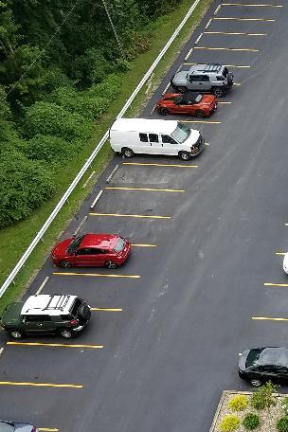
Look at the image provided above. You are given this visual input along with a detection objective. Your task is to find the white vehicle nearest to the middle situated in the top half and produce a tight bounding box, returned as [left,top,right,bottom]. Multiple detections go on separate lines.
[105,118,205,160]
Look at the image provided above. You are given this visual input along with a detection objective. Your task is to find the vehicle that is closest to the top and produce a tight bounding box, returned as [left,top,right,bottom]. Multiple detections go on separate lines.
[169,63,236,96]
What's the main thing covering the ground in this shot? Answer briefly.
paved ground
